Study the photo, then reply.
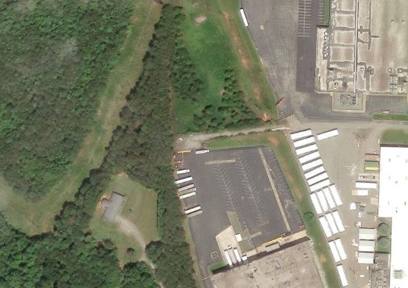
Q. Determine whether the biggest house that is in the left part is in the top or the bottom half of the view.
bottom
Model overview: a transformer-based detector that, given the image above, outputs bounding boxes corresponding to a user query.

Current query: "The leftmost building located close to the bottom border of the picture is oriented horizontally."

[212,241,327,288]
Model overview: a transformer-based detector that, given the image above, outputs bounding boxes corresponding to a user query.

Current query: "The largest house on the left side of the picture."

[103,193,126,223]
